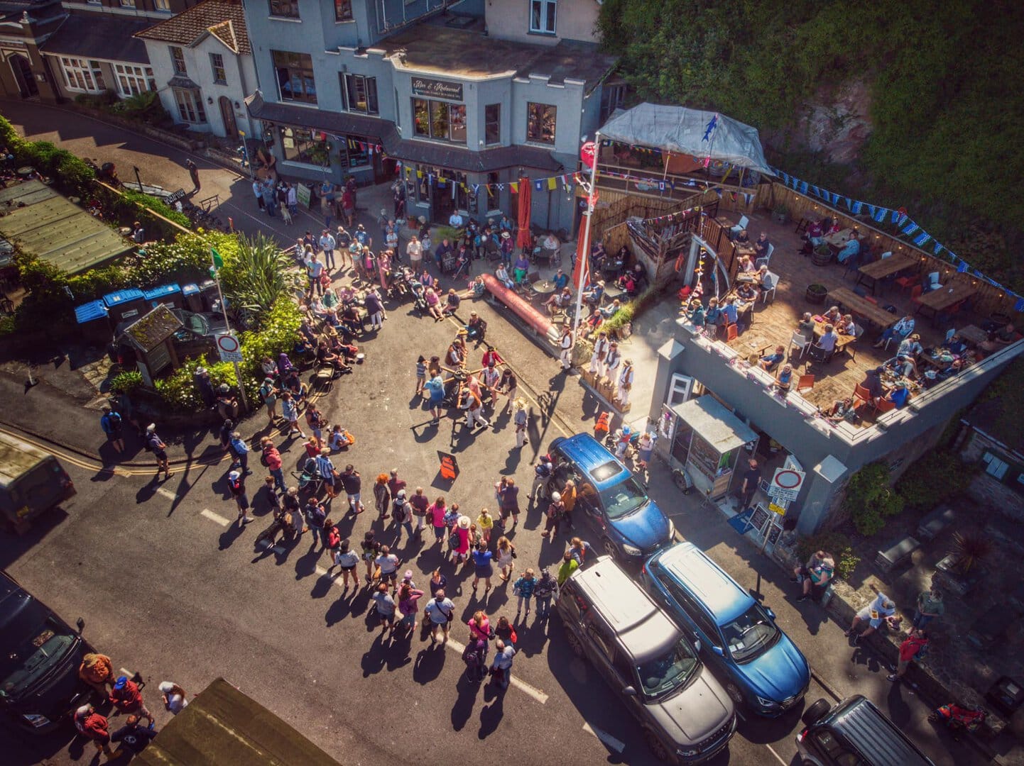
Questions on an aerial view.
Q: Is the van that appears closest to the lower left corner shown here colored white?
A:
No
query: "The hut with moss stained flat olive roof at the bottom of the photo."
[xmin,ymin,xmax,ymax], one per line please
[137,679,339,766]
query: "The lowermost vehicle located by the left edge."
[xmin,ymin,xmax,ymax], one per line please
[0,612,98,766]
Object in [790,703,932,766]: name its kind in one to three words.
car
